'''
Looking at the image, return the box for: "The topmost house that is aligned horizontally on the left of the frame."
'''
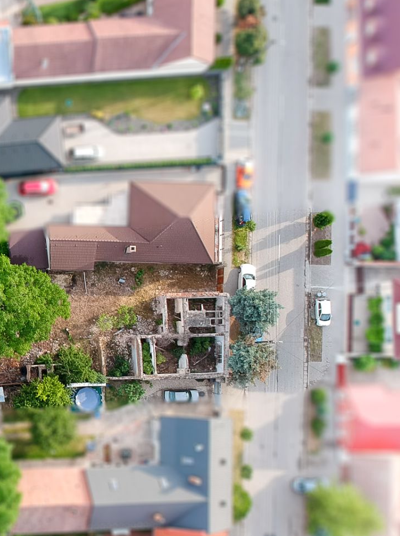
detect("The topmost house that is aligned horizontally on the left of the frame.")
[11,0,217,84]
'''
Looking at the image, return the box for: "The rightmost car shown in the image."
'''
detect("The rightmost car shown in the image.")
[314,297,332,328]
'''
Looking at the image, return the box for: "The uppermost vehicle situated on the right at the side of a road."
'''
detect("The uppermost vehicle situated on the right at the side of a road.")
[235,160,254,193]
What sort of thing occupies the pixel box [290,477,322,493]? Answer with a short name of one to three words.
car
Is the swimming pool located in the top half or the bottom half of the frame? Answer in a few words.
bottom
